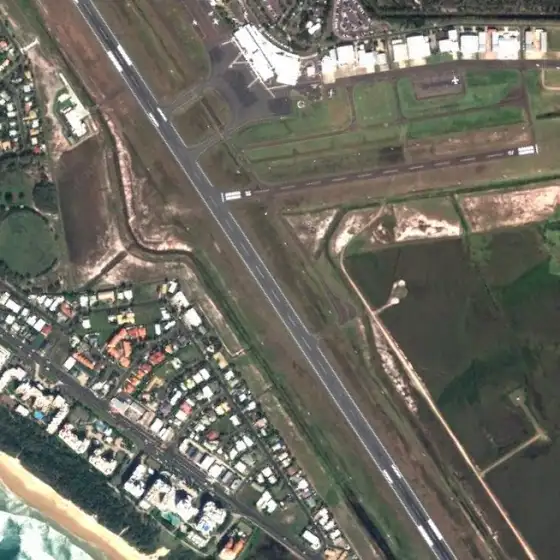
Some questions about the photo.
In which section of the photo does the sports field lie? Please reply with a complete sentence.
Look in the left portion of the view to spot the sports field.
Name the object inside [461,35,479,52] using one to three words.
hangar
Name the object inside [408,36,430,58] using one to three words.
hangar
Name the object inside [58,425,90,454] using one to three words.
building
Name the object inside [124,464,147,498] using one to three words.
building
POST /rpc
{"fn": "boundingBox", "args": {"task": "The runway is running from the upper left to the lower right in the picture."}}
[73,0,457,560]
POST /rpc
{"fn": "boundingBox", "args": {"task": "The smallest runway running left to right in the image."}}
[221,145,539,201]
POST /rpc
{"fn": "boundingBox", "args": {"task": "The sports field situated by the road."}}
[0,208,58,275]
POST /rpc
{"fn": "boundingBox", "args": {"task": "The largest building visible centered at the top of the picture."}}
[234,25,299,85]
